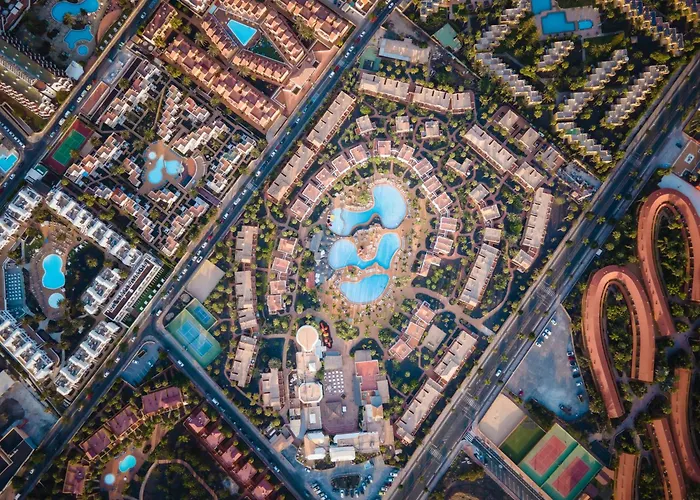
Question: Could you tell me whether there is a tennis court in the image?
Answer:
Yes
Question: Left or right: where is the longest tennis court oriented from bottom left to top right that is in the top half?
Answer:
left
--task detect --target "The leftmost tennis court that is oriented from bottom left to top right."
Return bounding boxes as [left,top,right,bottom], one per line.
[40,118,94,175]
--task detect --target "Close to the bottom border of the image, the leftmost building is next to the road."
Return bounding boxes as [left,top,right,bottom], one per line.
[0,425,41,495]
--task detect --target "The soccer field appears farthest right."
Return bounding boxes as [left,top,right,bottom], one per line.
[500,416,547,467]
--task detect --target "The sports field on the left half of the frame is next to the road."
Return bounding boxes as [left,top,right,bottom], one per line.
[187,259,224,303]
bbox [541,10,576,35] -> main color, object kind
blue swimming pool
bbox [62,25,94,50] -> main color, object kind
blue swimming pool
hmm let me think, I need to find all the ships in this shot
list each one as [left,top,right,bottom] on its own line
[319,320,332,350]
